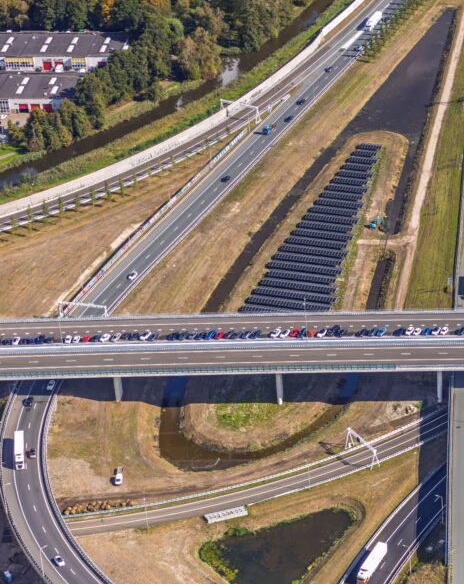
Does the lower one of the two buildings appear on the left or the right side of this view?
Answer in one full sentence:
You can find the lower one of the two buildings on the left side of the picture.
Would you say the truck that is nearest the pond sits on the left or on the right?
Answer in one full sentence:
The truck that is nearest the pond appears in the right half of the scene.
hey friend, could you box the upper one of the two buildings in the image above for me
[0,31,131,71]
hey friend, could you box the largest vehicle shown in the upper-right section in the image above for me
[360,9,383,32]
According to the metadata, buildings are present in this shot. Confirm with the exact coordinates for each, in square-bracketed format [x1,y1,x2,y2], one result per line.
[0,72,85,114]
[0,31,131,71]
